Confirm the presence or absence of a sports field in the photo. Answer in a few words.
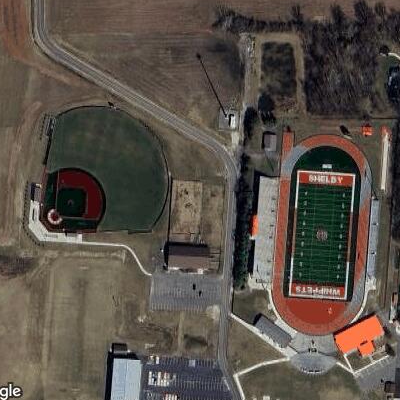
Yes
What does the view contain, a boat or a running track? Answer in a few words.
running track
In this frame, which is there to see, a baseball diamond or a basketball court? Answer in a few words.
baseball diamond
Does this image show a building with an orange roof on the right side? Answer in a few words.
Yes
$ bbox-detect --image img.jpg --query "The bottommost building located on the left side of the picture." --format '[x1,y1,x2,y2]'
[111,359,142,400]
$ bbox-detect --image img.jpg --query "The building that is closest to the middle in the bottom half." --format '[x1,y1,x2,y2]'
[166,245,210,271]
